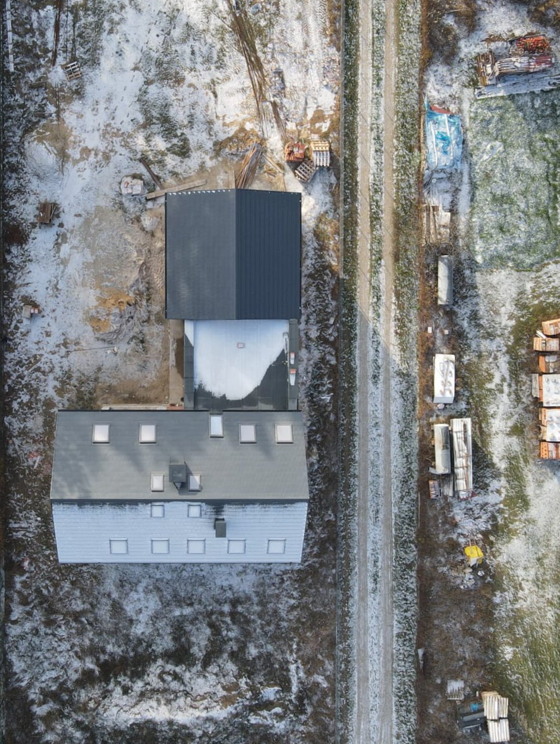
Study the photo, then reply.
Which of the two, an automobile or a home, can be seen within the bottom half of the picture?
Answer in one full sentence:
It is a home that can be seen within the bottom half of the picture.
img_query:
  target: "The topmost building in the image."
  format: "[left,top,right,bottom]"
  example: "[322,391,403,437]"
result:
[163,188,303,319]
